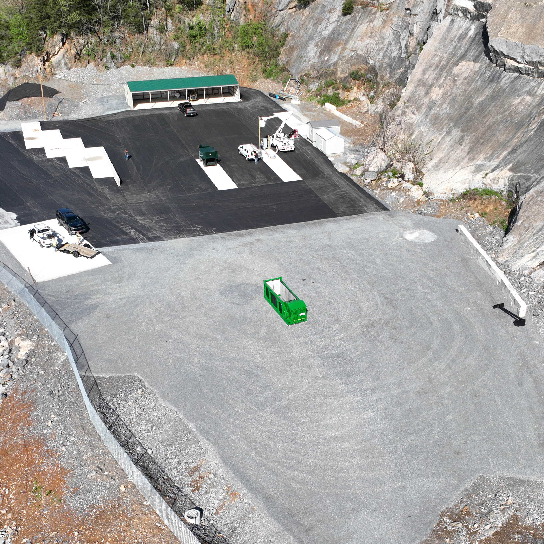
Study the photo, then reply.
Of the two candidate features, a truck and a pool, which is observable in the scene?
truck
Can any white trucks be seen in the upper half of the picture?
Yes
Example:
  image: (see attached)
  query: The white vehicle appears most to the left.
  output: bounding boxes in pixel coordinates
[23,217,61,247]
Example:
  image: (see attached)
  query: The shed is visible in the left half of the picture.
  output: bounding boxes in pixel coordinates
[122,71,246,110]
